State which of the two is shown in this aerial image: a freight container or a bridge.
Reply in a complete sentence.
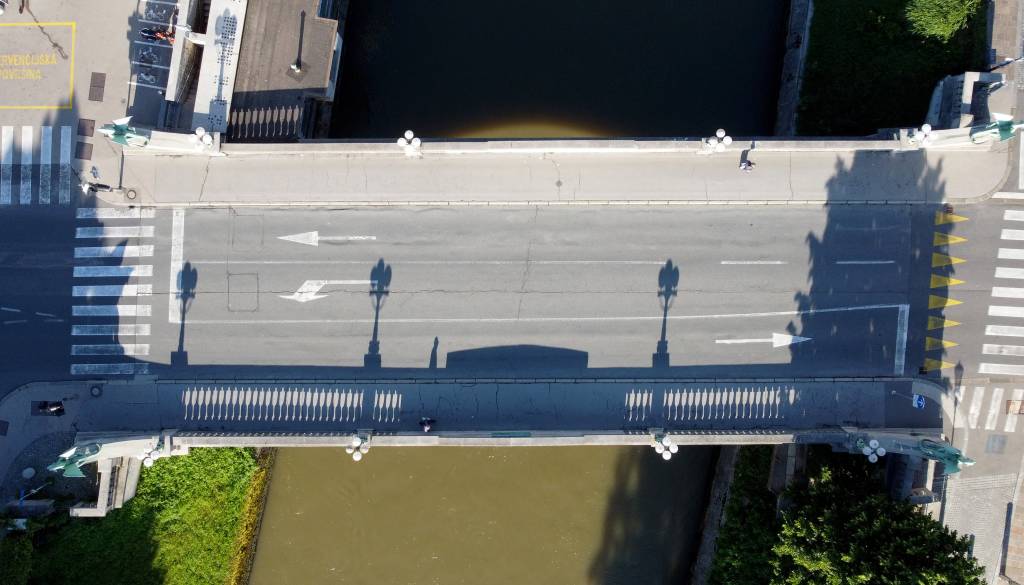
The one in the frame is a bridge.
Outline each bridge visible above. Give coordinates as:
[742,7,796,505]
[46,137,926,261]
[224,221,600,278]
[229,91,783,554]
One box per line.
[122,139,1011,441]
